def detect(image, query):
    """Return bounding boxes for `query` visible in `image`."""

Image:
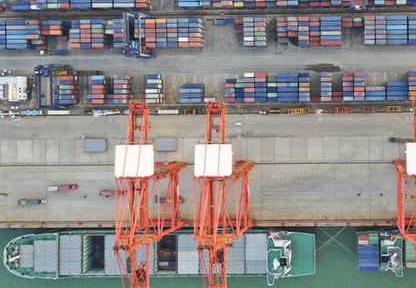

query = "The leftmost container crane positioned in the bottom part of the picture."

[105,97,192,288]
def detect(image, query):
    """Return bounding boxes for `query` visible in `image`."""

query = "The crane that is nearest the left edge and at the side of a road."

[38,65,76,110]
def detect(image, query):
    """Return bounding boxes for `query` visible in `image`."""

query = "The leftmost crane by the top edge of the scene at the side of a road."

[126,12,158,58]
